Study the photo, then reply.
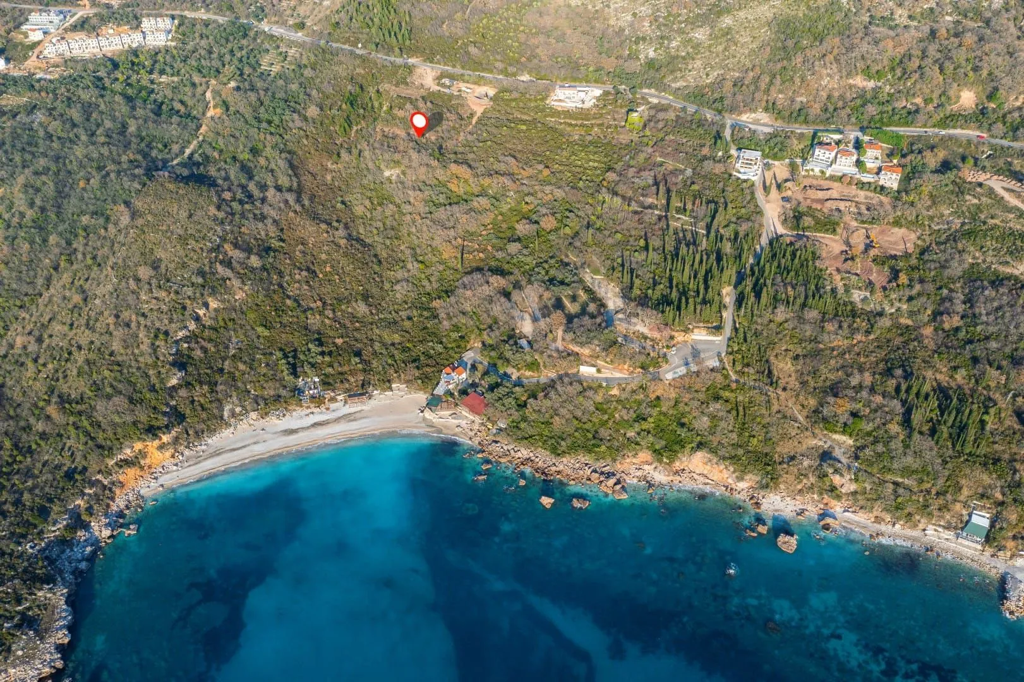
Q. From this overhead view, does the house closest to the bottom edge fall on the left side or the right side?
right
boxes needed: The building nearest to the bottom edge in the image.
[960,508,990,551]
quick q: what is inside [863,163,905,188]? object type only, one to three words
house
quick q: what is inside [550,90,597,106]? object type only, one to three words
house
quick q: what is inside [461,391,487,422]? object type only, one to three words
building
